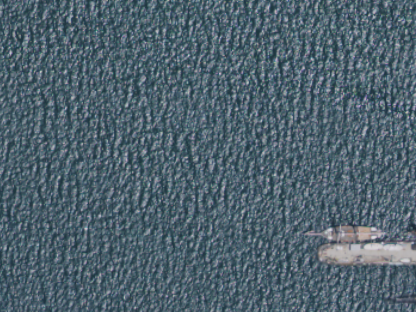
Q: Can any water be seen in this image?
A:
Yes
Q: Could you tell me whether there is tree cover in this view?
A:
No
